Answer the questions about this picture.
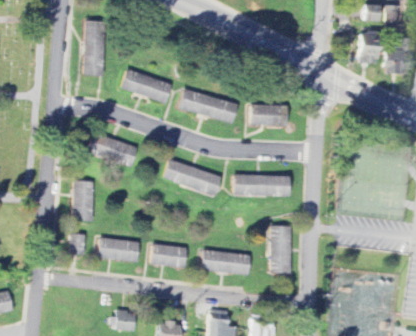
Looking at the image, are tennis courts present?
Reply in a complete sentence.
Yes, the image includes a tennis court.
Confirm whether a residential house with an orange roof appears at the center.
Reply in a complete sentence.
No, no residential house with an orange roof appears at the center.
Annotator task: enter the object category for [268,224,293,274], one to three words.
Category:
house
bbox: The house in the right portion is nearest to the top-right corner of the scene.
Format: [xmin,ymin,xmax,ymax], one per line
[383,4,400,24]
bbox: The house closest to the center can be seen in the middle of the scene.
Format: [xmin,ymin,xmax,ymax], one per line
[164,160,222,196]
